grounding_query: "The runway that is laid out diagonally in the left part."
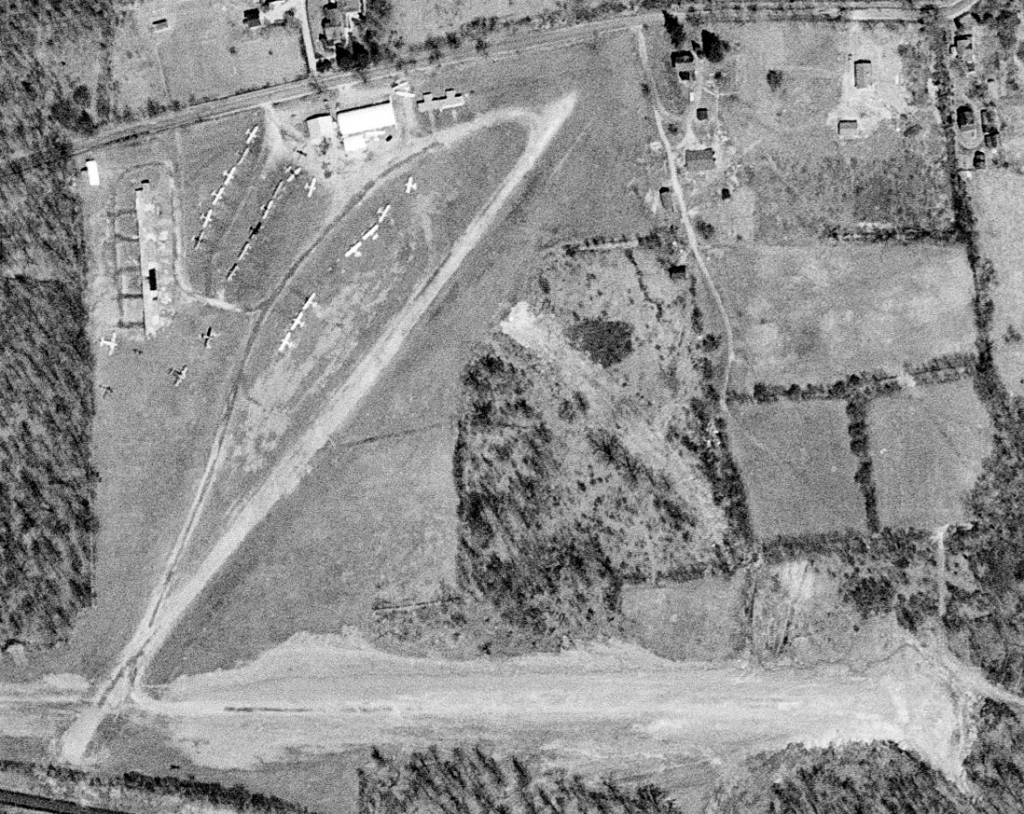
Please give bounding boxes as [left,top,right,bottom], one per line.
[62,91,576,763]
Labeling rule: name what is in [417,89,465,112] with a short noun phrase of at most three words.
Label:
building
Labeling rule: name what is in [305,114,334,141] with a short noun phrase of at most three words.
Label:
hangar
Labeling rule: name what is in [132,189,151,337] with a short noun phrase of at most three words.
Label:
shed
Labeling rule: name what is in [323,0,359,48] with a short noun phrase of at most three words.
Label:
house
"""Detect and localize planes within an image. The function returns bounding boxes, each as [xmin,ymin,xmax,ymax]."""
[405,177,417,192]
[99,383,111,396]
[227,264,240,279]
[238,243,251,260]
[273,181,286,198]
[167,366,187,386]
[234,148,248,164]
[191,232,204,249]
[200,328,212,346]
[261,201,273,218]
[211,188,223,204]
[296,146,306,160]
[377,205,390,222]
[291,312,305,330]
[304,178,316,197]
[362,225,378,239]
[100,333,116,355]
[345,241,361,257]
[200,209,212,227]
[245,126,258,143]
[223,167,235,184]
[248,222,261,237]
[279,333,293,351]
[285,165,302,181]
[302,293,317,309]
